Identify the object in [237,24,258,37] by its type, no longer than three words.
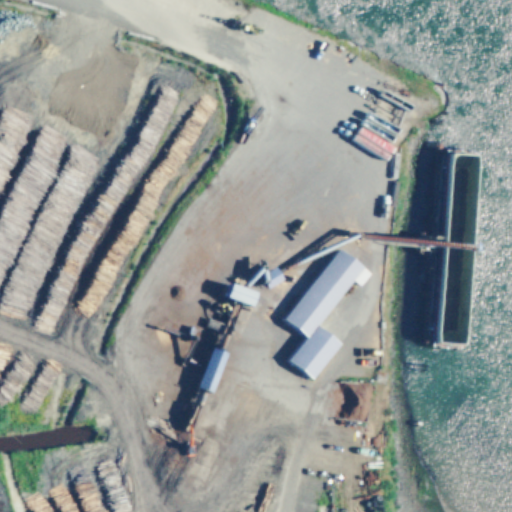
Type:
vehicle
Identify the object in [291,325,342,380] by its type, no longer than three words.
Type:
shed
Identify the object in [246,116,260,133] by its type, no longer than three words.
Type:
vehicle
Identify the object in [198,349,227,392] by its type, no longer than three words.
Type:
building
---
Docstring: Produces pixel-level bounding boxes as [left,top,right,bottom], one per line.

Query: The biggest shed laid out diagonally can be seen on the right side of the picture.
[285,250,370,338]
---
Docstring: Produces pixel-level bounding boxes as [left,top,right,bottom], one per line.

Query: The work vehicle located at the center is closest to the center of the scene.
[292,215,310,238]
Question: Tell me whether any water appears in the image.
Yes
